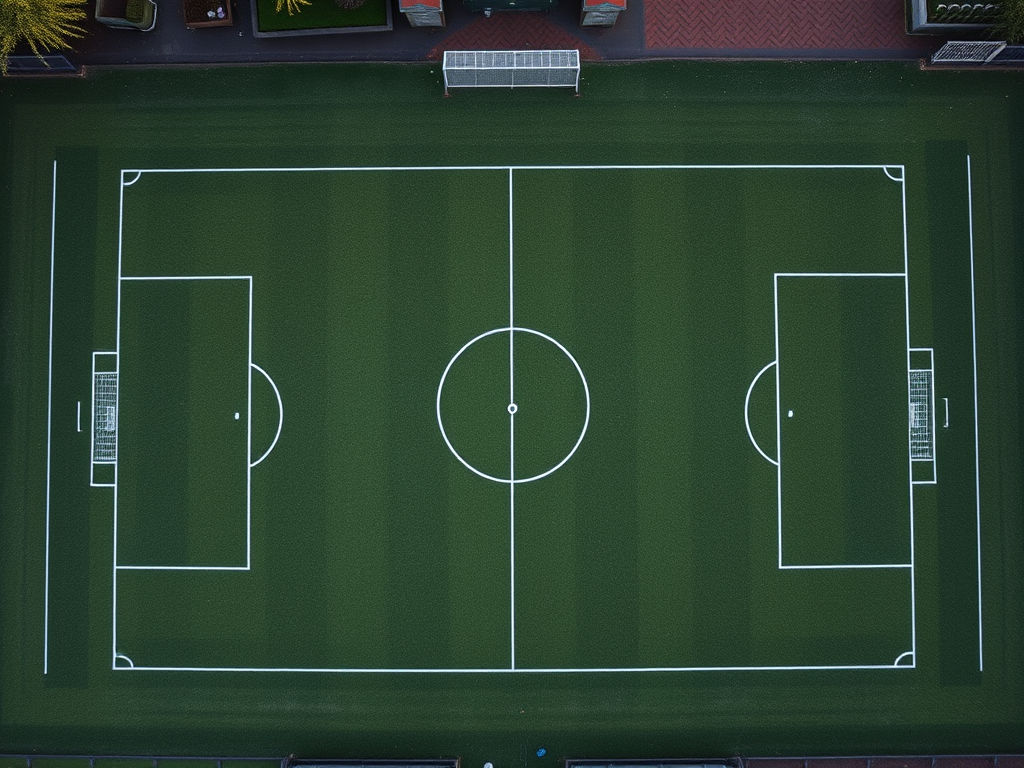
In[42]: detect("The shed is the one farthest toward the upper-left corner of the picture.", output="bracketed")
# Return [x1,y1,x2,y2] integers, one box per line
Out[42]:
[399,0,445,28]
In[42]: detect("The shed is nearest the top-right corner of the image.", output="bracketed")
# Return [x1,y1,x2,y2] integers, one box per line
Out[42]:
[582,0,626,28]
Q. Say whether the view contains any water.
No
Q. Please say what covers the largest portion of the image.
grass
